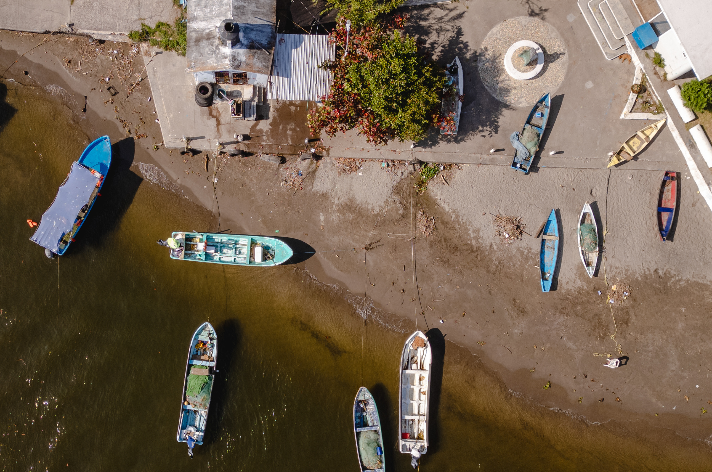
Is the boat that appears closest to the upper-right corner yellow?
Yes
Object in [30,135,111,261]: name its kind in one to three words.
boat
